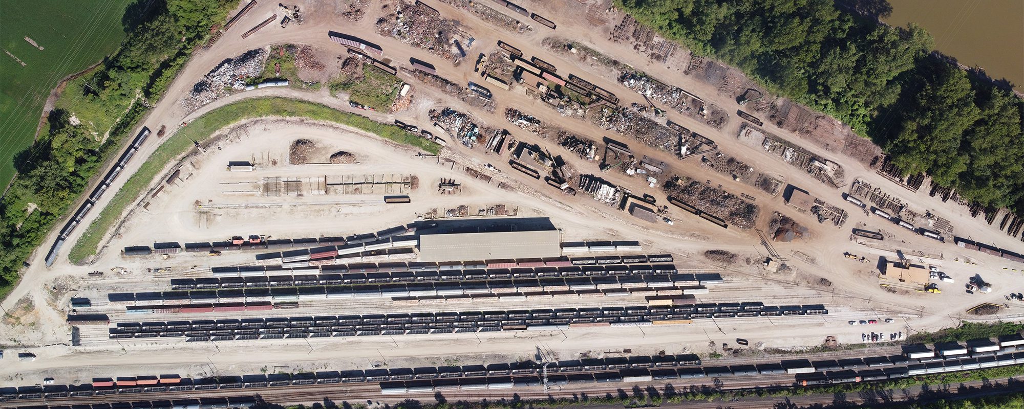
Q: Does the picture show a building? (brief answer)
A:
Yes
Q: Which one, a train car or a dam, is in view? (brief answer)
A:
train car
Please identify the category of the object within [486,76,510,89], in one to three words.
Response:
rail car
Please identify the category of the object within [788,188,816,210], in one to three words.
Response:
building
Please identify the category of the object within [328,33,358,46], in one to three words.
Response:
rail car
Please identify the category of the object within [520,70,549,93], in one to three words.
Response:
building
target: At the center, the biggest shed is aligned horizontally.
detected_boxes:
[419,228,560,262]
